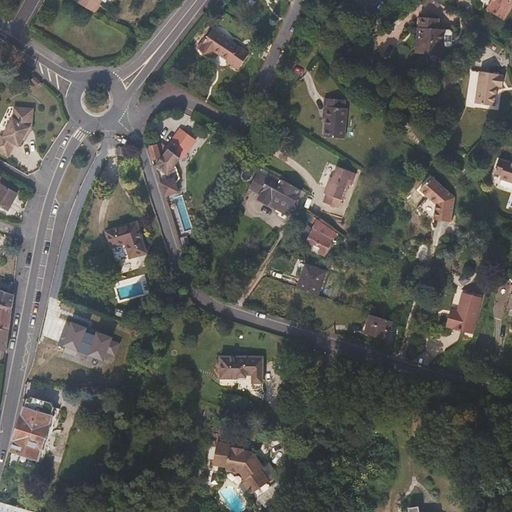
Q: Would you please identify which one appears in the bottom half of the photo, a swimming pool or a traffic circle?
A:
swimming pool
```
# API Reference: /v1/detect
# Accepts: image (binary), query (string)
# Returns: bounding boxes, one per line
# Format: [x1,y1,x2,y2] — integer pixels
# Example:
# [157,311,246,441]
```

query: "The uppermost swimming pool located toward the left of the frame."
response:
[168,193,193,236]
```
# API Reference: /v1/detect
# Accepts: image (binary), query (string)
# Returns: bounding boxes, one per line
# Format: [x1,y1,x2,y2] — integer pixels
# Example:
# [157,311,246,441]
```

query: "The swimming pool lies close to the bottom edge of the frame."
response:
[221,488,246,512]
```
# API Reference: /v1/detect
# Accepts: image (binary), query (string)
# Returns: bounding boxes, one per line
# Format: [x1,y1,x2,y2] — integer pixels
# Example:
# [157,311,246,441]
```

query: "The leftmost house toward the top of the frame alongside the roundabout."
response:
[0,107,34,162]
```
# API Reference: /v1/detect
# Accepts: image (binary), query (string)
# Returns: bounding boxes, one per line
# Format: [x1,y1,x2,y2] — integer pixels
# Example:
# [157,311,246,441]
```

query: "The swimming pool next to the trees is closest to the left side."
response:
[114,274,149,303]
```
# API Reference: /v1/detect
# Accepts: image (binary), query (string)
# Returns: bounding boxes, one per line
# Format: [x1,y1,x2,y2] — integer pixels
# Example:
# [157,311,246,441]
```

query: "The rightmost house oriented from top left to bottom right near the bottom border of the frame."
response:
[213,442,271,495]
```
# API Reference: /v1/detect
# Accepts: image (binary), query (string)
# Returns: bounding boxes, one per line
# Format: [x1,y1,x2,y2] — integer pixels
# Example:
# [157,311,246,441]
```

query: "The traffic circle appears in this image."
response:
[65,69,134,134]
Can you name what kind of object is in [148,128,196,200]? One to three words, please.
house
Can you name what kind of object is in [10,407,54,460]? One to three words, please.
house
